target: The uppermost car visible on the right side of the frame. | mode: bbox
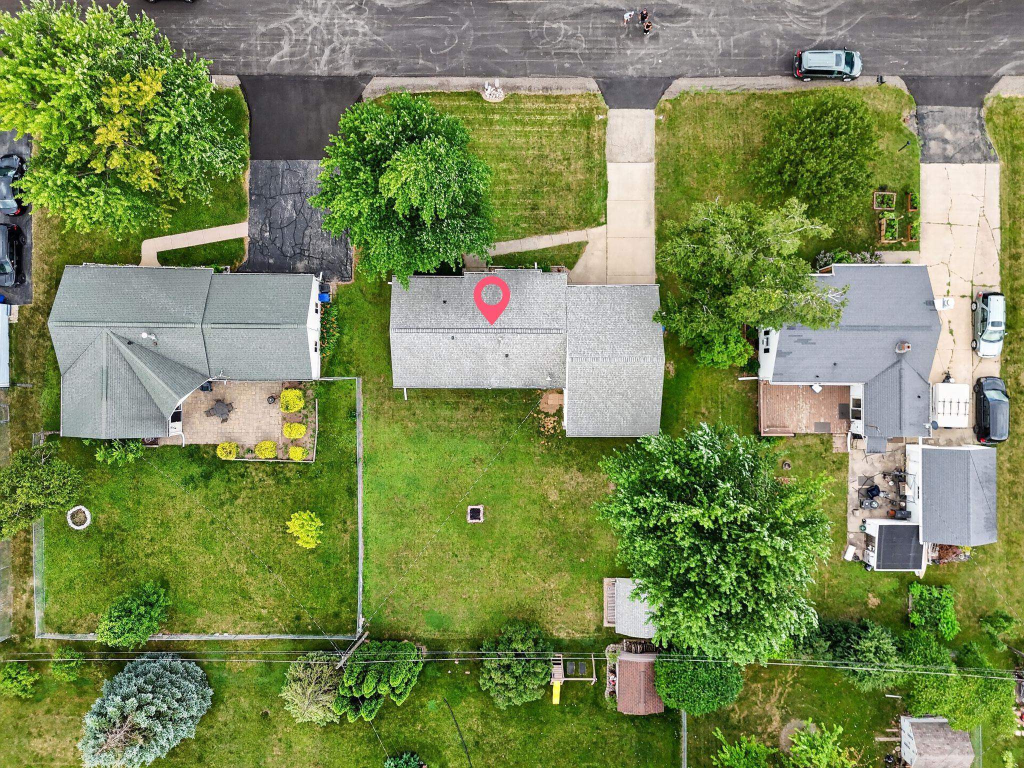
[790,48,860,86]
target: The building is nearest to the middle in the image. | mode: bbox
[388,262,664,438]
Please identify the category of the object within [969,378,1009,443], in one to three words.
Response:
car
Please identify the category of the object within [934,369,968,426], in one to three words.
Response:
trailer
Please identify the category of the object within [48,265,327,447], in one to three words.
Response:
house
